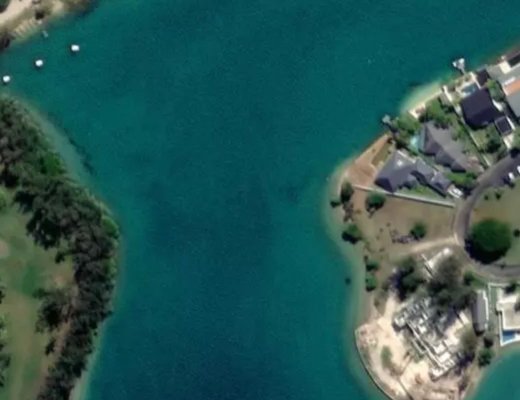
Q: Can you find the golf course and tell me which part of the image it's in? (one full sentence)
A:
The golf course is located in the bottom left region of the scene.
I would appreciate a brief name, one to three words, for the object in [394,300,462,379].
building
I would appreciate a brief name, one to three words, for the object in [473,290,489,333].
shed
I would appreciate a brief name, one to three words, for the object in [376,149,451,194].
house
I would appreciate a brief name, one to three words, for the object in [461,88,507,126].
house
